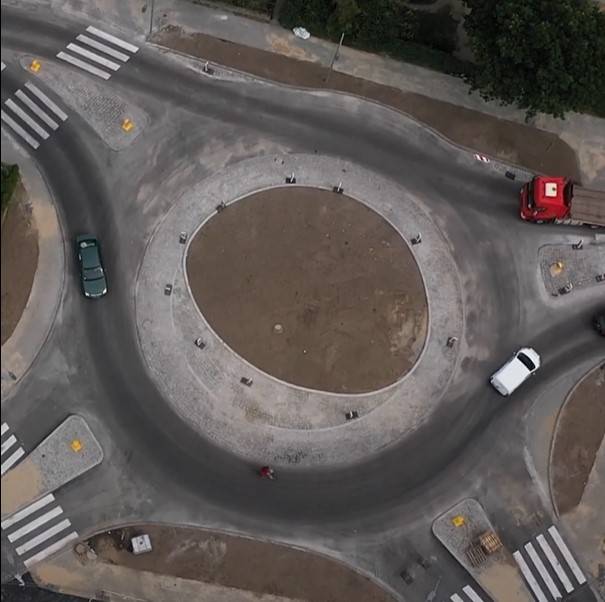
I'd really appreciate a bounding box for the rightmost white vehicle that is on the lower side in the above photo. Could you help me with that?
[490,349,539,398]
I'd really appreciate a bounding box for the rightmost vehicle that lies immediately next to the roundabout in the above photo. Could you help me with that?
[522,173,605,226]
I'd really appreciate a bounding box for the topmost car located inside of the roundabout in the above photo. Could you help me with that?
[75,234,108,300]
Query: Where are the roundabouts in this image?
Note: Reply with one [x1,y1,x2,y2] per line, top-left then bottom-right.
[56,80,541,552]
